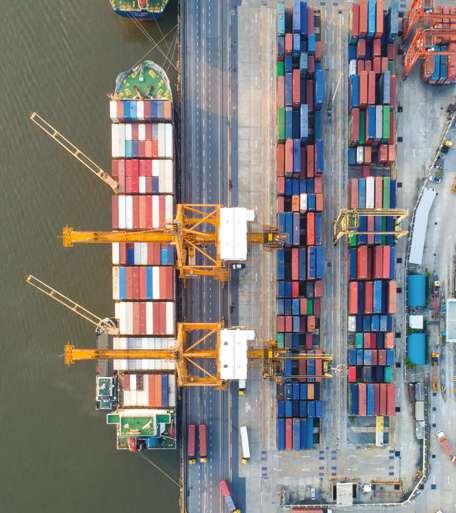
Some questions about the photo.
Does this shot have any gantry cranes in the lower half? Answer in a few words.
Yes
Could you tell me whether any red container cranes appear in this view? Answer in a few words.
Yes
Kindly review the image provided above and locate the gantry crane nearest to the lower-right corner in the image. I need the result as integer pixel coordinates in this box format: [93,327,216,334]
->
[263,351,334,379]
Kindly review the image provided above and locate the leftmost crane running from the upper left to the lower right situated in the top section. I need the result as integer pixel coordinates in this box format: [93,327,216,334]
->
[31,114,121,196]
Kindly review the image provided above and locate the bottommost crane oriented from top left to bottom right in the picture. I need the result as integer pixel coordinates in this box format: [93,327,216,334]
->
[26,276,119,338]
